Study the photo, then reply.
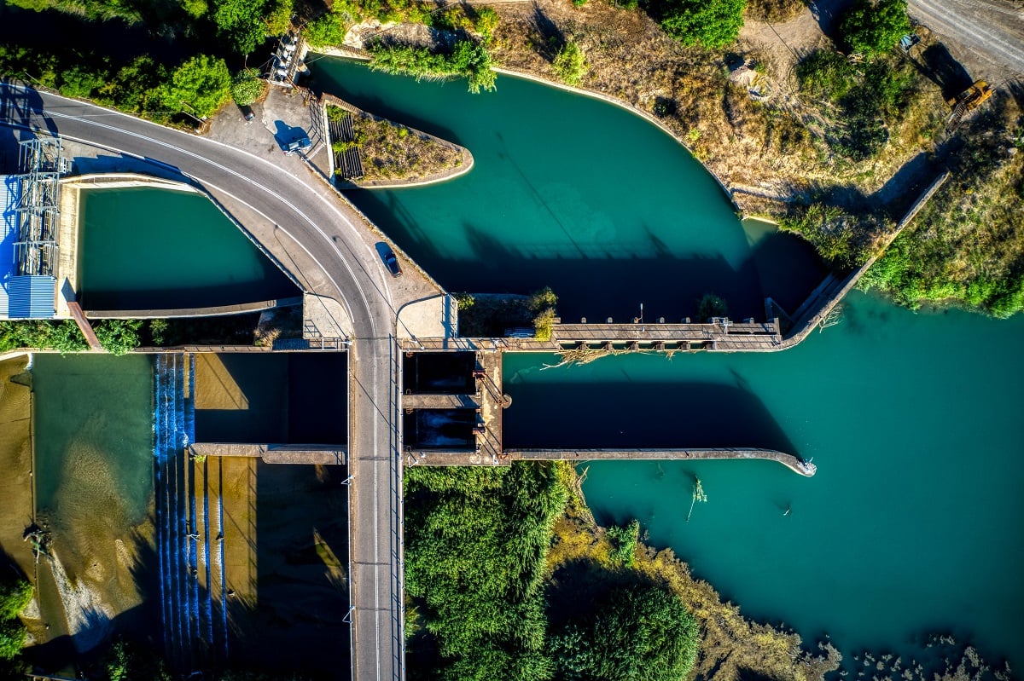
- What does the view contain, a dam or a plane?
dam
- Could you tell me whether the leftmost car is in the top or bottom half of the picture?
top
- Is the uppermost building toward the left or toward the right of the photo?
left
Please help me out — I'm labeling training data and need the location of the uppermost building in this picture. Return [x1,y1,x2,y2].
[262,30,321,91]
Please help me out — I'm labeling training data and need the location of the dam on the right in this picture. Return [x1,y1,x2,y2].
[551,317,780,352]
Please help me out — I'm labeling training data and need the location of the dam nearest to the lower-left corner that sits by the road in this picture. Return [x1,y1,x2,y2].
[156,351,406,681]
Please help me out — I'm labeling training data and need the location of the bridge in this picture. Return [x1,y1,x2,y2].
[347,339,411,681]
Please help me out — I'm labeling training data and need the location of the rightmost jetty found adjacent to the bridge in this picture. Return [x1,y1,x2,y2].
[502,446,815,477]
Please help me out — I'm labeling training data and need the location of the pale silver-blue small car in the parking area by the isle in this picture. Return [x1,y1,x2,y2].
[279,135,312,156]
